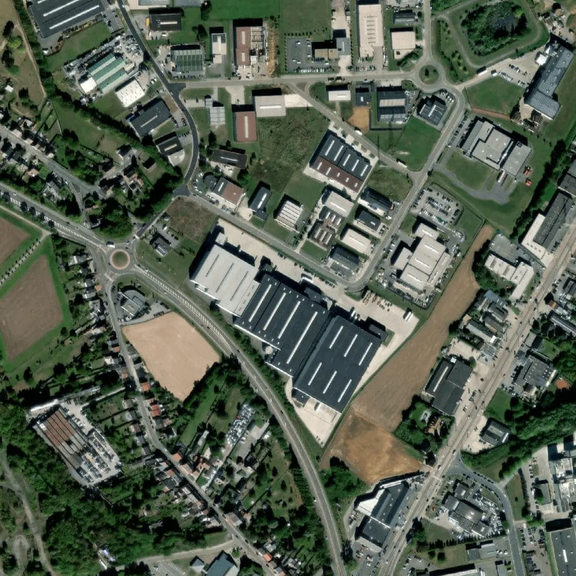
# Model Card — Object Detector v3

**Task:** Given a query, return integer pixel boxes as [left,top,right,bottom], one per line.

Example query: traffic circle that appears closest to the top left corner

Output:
[103,242,136,276]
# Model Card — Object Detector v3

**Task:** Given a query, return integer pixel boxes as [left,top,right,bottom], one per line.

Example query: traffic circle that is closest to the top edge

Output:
[412,58,446,91]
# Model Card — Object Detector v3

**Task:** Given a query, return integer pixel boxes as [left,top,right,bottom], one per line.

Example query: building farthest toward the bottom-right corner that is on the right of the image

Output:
[548,528,576,576]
